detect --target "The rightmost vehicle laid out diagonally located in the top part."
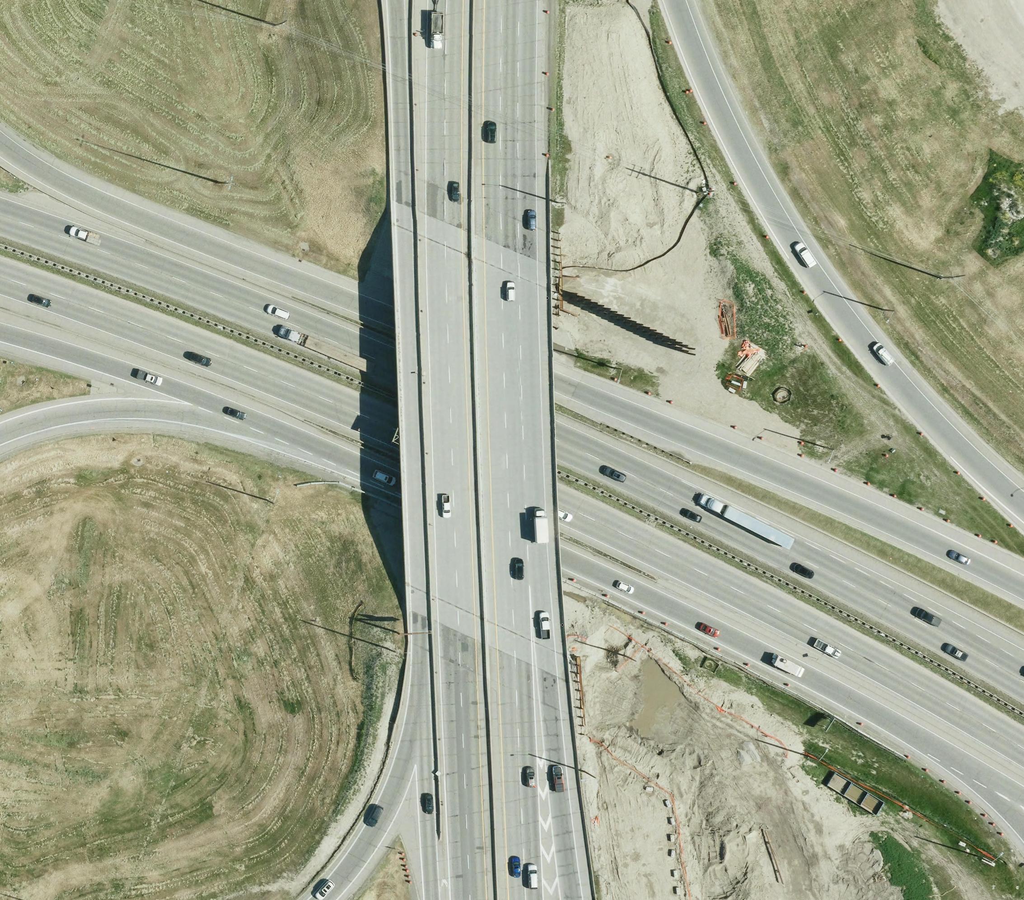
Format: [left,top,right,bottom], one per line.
[874,344,894,365]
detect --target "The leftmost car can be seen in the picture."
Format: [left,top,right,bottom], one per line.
[29,294,52,307]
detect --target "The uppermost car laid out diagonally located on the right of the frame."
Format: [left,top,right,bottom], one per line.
[796,243,815,267]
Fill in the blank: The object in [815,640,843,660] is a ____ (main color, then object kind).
white vehicle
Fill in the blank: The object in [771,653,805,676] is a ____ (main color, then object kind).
white camper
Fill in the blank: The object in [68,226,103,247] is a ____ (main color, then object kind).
white truck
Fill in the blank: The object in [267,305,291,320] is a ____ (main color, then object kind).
white car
